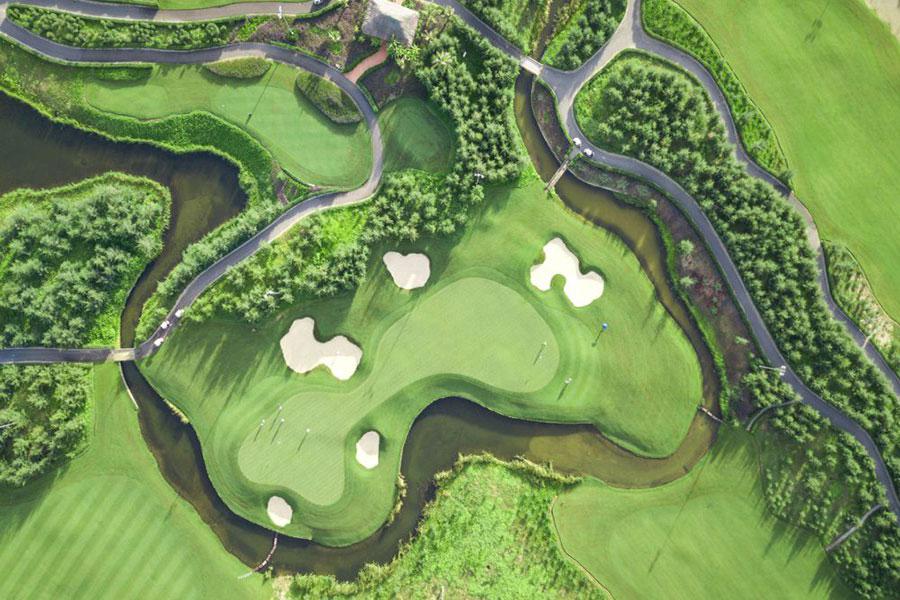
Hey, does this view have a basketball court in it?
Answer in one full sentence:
No, there's no basketball court here.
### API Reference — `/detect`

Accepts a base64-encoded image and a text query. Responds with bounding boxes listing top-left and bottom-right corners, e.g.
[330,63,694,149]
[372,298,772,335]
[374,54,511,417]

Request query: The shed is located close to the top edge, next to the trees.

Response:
[360,0,419,47]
